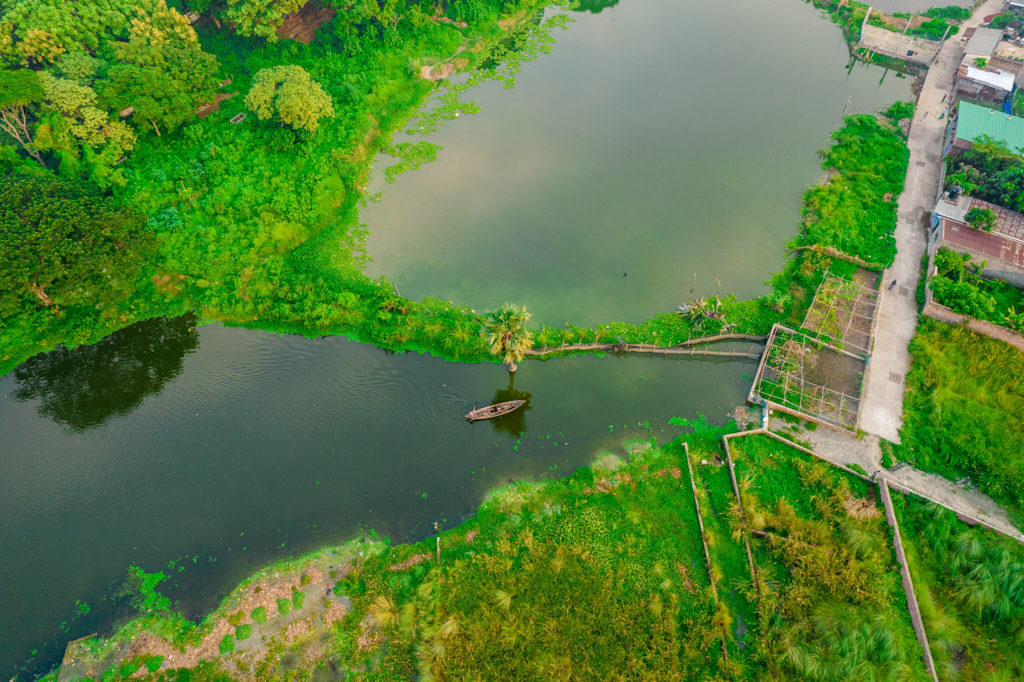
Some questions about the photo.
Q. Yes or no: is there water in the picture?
Yes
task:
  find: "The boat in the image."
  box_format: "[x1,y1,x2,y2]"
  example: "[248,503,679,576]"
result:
[464,397,526,417]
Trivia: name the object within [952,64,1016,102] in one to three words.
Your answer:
shed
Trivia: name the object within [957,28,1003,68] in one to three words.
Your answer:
shed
